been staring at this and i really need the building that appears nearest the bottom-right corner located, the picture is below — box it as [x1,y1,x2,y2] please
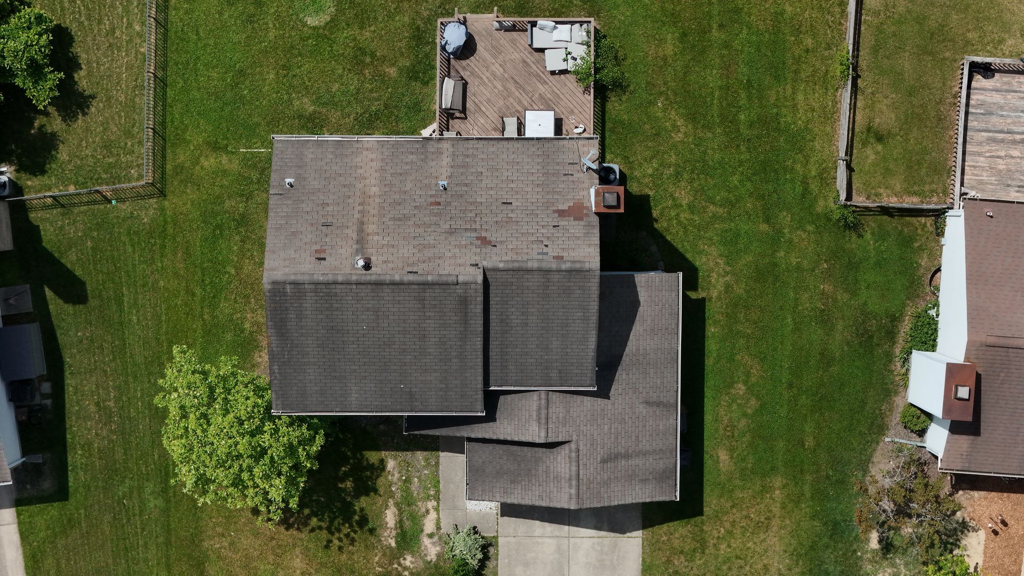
[909,197,1024,481]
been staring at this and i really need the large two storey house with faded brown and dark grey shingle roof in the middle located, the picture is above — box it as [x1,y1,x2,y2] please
[264,135,684,508]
